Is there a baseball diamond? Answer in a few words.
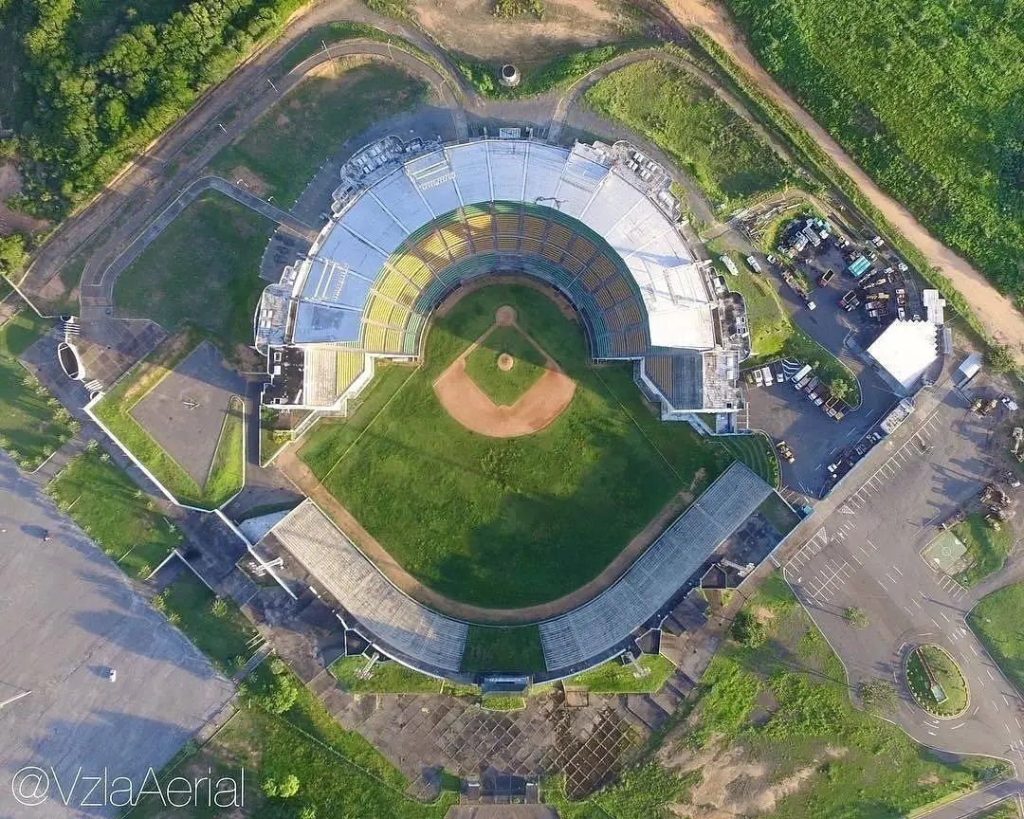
Yes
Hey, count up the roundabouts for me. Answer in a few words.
1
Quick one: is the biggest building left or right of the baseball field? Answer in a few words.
to its right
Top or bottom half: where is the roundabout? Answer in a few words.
bottom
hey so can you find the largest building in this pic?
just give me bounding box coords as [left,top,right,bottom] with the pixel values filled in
[843,319,937,399]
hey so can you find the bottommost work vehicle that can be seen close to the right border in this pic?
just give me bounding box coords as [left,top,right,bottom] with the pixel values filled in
[989,513,1002,532]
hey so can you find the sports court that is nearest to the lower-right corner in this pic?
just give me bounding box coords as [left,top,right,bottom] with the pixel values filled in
[924,527,975,575]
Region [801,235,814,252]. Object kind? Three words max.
vehicle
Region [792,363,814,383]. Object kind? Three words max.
bus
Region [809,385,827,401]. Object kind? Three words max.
vehicle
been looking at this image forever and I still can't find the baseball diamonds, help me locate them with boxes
[275,276,736,623]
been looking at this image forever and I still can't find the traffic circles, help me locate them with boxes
[905,644,969,718]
